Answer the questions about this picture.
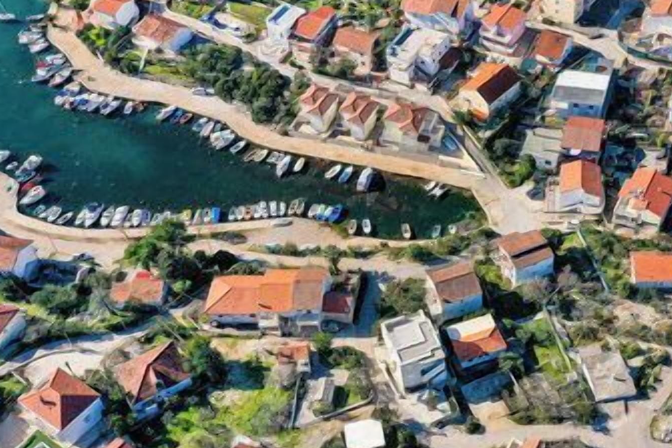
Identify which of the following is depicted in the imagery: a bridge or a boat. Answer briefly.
boat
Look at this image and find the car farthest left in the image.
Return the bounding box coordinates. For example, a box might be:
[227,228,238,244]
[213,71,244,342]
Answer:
[72,251,94,264]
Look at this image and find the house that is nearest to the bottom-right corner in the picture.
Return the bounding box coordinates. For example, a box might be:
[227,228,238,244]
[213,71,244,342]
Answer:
[582,353,633,407]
